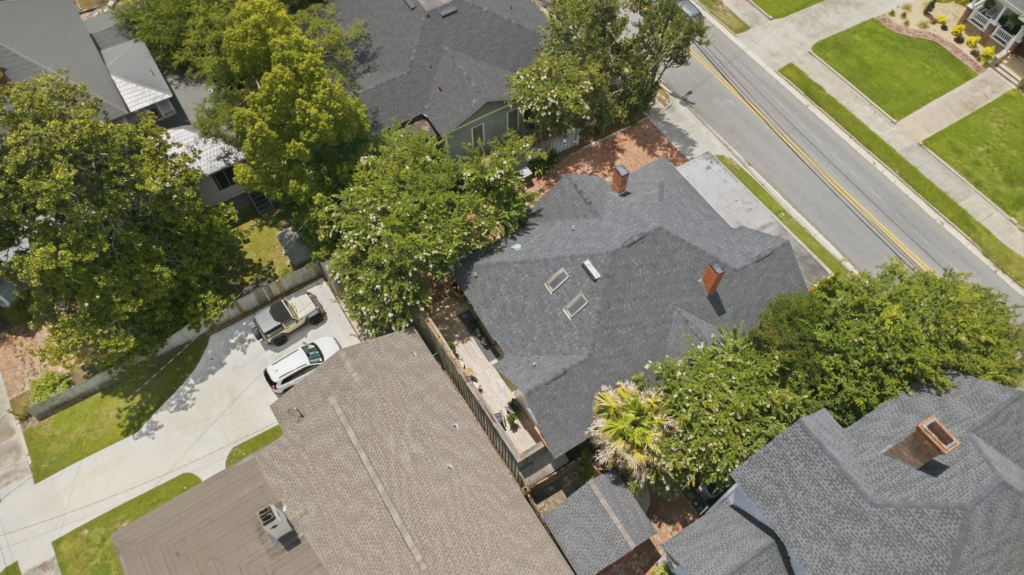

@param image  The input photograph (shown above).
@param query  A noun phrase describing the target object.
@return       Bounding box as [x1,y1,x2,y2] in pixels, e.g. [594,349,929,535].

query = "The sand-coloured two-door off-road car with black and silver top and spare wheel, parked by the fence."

[252,289,328,345]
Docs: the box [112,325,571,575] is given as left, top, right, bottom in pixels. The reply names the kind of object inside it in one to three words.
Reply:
house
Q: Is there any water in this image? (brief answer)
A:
No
